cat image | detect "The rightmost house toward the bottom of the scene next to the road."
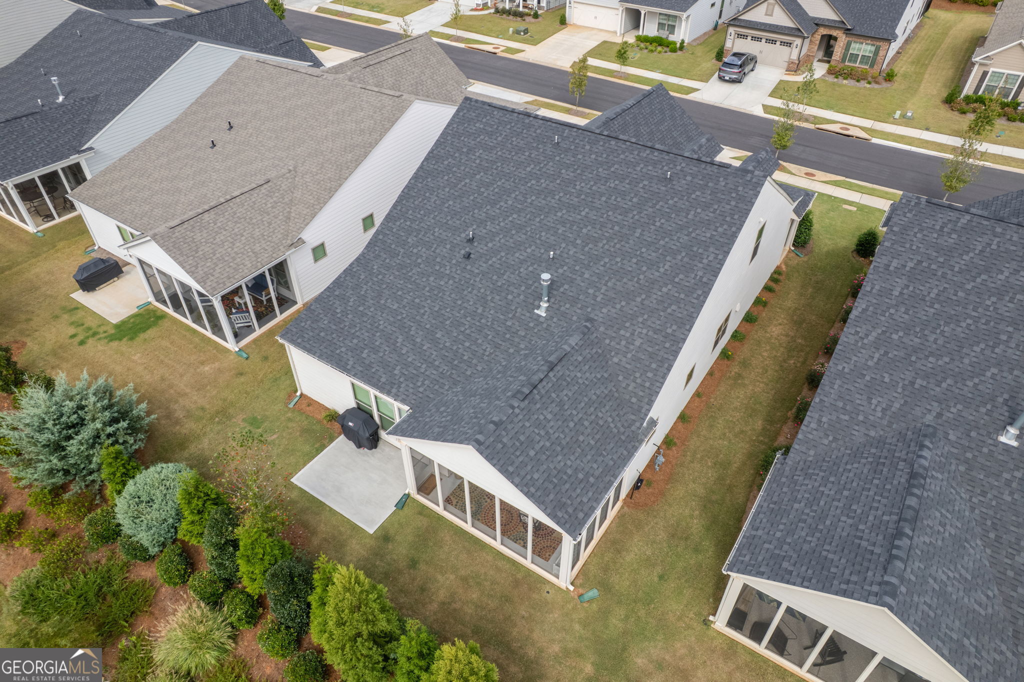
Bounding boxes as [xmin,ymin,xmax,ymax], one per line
[701,183,1024,682]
